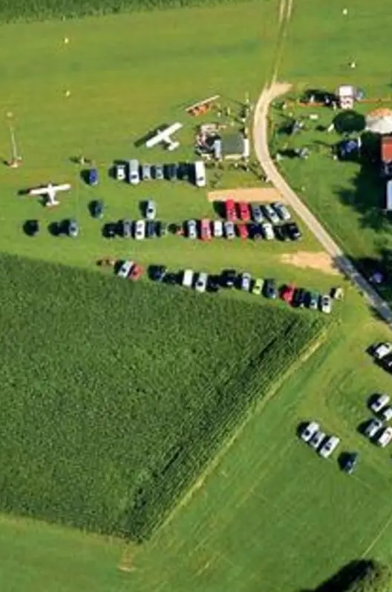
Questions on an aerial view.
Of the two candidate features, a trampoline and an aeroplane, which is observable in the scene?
aeroplane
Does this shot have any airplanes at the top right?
No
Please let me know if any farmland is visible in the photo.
Yes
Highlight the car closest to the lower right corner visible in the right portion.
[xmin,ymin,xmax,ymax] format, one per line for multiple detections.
[341,451,357,474]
